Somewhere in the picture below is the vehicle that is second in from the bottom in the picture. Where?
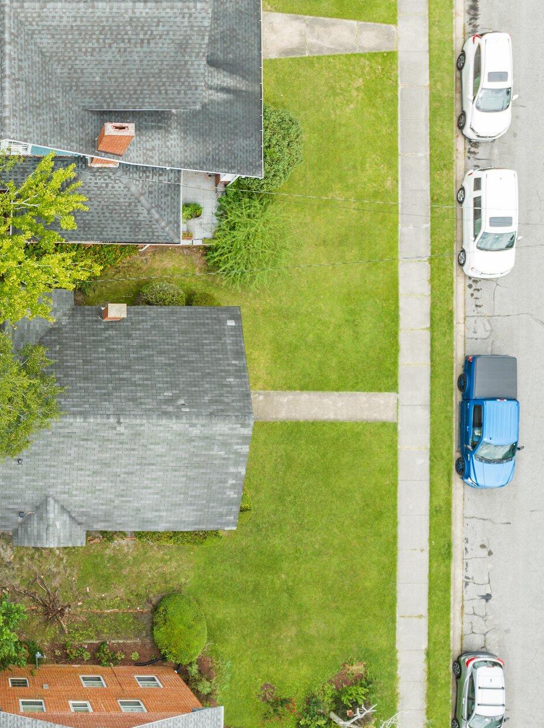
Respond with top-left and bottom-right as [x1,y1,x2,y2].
[457,356,525,491]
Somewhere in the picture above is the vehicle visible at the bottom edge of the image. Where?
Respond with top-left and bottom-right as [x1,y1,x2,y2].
[453,649,516,728]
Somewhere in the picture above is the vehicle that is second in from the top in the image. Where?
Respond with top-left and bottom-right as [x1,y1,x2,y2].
[458,168,524,282]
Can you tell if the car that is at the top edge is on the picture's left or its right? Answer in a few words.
right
